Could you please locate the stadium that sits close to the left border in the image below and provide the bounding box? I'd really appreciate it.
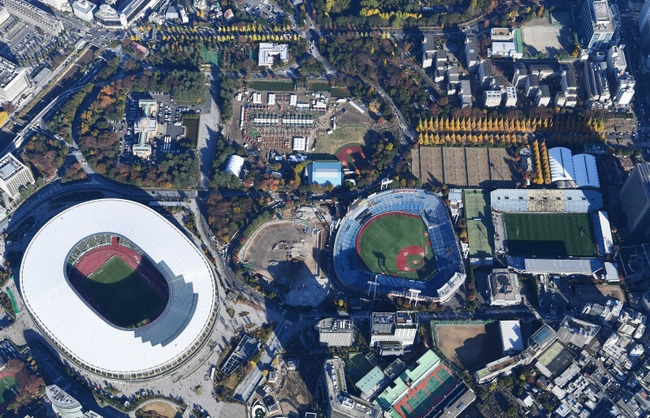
[19,197,221,386]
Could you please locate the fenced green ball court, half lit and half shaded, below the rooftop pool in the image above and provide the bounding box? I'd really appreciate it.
[538,338,579,377]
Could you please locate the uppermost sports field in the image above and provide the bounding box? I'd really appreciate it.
[490,20,576,60]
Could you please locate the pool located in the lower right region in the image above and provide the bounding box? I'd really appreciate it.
[532,327,555,346]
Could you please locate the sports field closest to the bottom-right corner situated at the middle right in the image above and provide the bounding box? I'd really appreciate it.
[501,212,597,258]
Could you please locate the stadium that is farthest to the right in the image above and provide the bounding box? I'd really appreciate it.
[490,189,613,279]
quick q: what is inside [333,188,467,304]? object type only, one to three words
stadium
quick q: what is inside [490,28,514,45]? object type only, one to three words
building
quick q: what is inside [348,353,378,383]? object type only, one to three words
sports court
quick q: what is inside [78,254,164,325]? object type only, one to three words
sports field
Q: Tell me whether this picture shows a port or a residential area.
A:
residential area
